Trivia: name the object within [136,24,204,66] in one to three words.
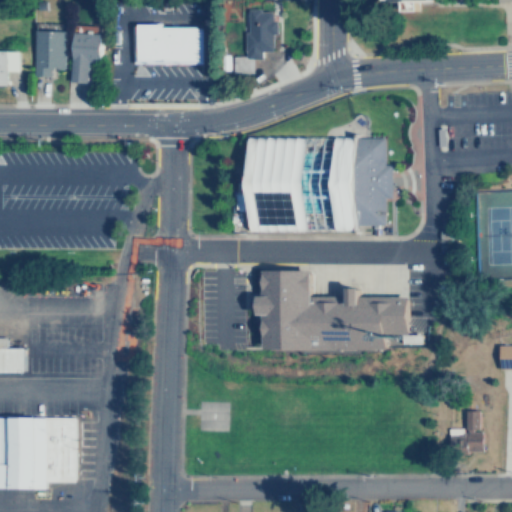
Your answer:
building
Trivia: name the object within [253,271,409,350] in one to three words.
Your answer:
building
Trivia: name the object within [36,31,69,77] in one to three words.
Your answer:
house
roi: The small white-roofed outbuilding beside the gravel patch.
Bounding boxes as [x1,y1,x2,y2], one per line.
[0,338,28,374]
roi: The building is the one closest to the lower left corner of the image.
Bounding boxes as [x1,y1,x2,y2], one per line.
[0,417,81,490]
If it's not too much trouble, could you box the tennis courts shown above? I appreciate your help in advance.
[476,192,512,276]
